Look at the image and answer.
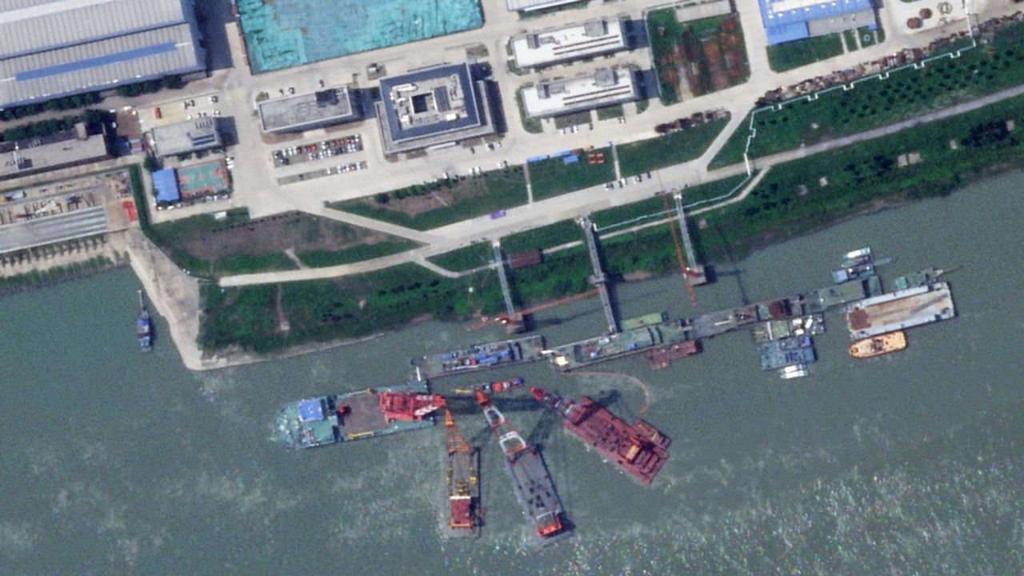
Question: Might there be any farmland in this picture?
No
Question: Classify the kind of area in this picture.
port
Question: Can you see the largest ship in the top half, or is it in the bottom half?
bottom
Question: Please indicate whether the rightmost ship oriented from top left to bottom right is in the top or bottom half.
bottom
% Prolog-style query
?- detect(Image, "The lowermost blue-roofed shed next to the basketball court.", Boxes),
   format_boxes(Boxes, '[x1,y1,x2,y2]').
[153,169,182,203]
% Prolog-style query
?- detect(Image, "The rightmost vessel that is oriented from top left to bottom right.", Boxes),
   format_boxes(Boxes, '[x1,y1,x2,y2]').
[532,387,669,482]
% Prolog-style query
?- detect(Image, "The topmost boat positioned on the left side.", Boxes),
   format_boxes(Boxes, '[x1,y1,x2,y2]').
[138,290,152,352]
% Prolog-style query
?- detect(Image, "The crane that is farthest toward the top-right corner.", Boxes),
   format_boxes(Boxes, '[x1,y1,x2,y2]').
[655,168,698,305]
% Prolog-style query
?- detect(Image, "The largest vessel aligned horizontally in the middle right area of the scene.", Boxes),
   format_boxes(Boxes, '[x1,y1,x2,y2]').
[847,282,954,338]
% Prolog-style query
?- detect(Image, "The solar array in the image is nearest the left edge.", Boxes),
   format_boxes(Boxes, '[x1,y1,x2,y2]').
[434,87,451,113]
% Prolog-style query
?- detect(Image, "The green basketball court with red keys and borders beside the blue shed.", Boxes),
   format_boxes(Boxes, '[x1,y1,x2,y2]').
[178,161,228,197]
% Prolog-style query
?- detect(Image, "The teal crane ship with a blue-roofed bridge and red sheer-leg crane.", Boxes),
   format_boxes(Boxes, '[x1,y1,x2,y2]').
[272,381,465,447]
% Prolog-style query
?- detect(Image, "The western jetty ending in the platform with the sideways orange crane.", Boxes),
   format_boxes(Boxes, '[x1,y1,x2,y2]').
[493,241,528,334]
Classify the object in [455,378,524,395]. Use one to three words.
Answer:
boat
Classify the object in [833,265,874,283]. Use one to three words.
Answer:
ship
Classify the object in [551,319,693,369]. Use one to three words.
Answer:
pier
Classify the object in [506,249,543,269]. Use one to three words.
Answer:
shed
